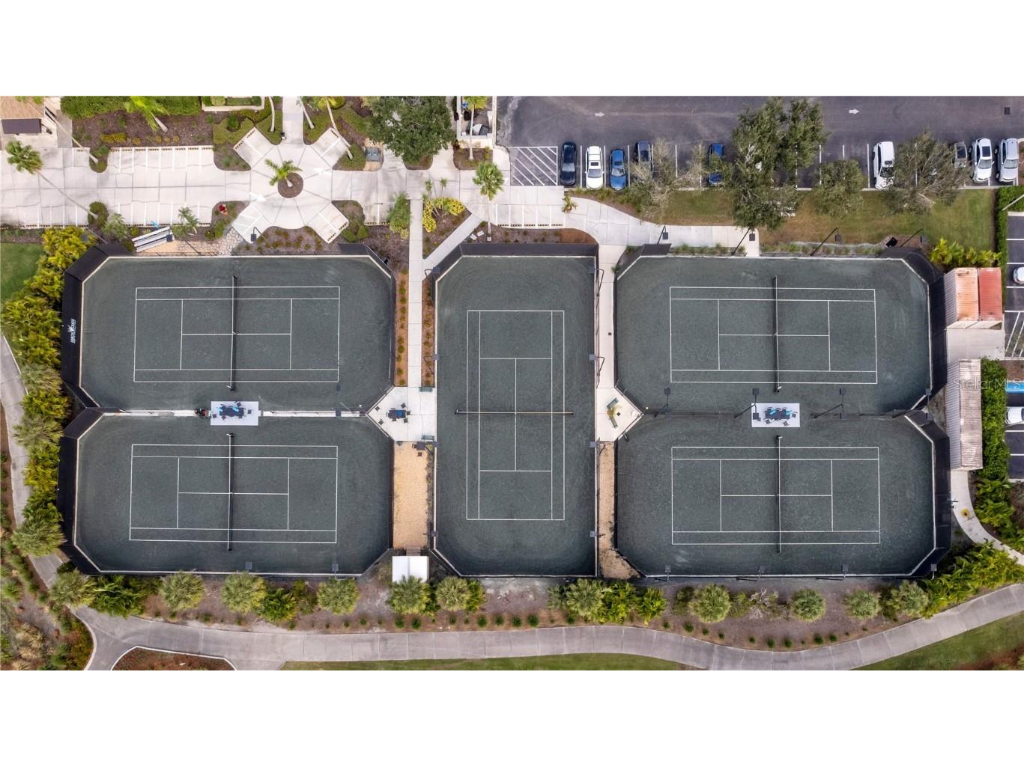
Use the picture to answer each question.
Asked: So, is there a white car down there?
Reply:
Yes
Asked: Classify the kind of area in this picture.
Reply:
sports ground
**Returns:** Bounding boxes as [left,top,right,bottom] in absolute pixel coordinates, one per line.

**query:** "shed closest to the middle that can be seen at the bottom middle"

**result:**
[394,557,430,584]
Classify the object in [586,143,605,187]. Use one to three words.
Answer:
car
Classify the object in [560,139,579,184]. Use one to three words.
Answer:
car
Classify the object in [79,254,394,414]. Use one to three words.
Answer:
tennis court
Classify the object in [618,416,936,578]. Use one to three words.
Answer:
tennis court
